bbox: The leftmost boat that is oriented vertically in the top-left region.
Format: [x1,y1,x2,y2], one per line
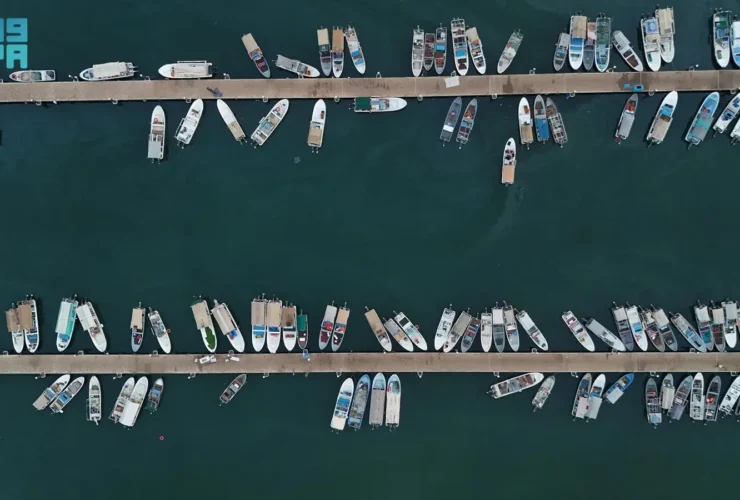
[147,100,165,165]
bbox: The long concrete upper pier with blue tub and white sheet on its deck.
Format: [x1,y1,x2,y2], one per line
[0,66,740,106]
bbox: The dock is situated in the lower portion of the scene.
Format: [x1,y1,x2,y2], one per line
[0,348,740,379]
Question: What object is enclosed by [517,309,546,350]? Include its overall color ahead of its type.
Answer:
white boat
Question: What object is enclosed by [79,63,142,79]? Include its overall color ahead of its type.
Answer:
white boat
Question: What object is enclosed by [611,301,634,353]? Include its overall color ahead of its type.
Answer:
gray boat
